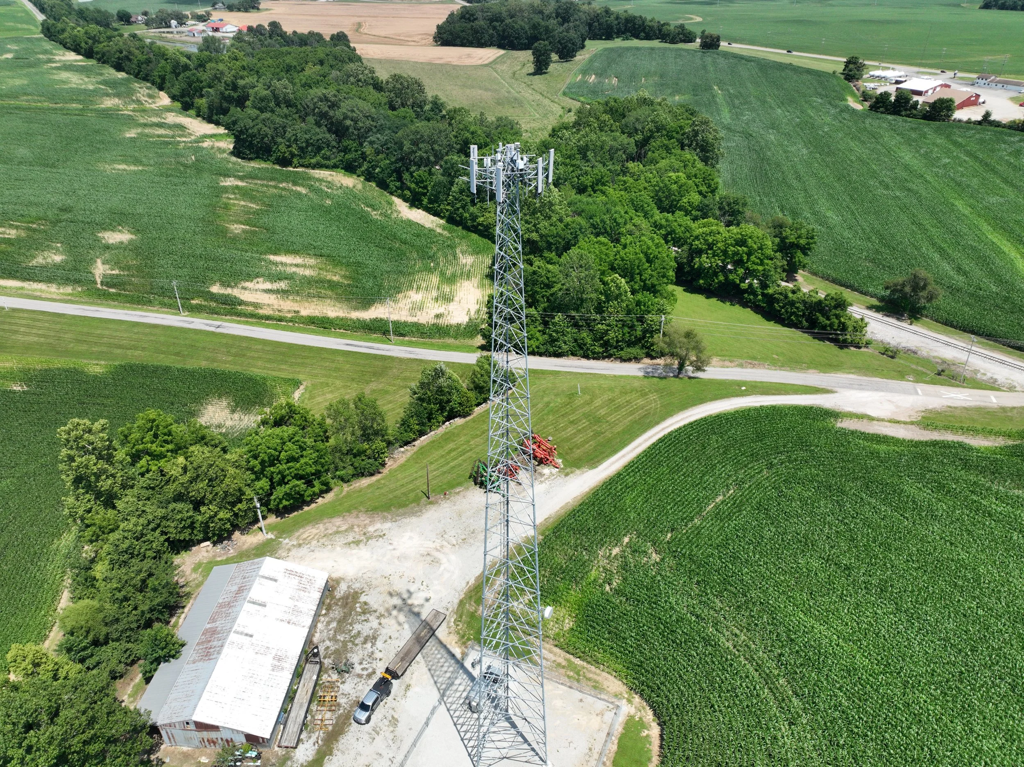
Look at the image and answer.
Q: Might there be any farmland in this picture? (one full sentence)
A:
Yes, some farmland is visible.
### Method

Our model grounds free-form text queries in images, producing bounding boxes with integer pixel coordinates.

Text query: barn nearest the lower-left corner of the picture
[132,555,330,749]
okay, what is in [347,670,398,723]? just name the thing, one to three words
truck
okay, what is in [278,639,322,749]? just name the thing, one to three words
trailer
